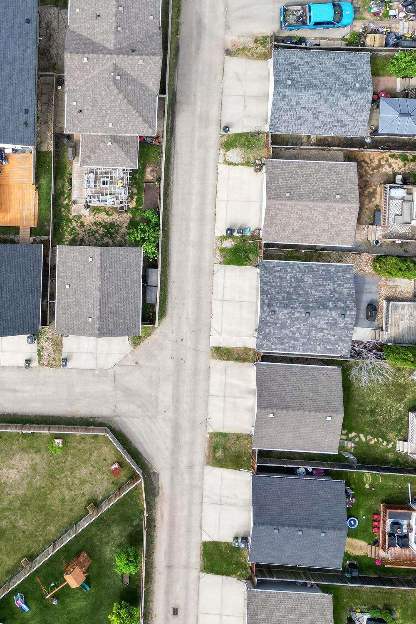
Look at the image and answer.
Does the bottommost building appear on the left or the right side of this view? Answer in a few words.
right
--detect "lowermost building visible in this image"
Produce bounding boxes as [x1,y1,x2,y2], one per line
[242,579,334,624]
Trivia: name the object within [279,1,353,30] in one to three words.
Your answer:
truck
